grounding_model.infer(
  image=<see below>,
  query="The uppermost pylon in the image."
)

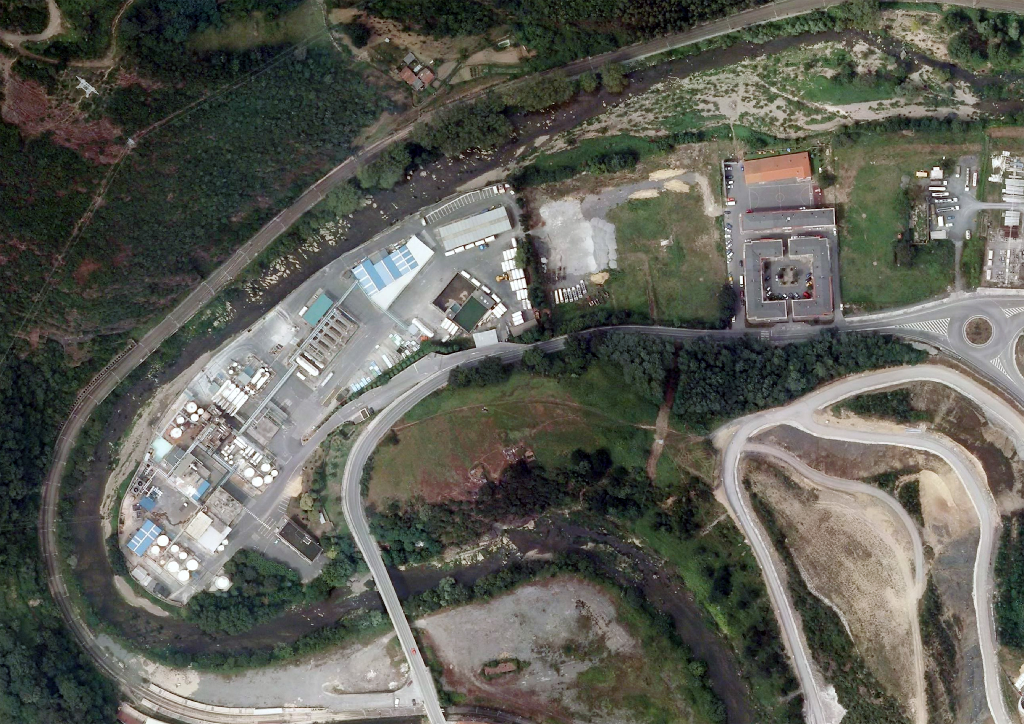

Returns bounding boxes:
[69,75,94,100]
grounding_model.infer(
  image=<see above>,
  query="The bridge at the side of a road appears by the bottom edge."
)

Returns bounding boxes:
[355,525,449,724]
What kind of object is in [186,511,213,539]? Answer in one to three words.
shed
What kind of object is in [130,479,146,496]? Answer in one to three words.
cooling tower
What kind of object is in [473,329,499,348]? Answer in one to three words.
building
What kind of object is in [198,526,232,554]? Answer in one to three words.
building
